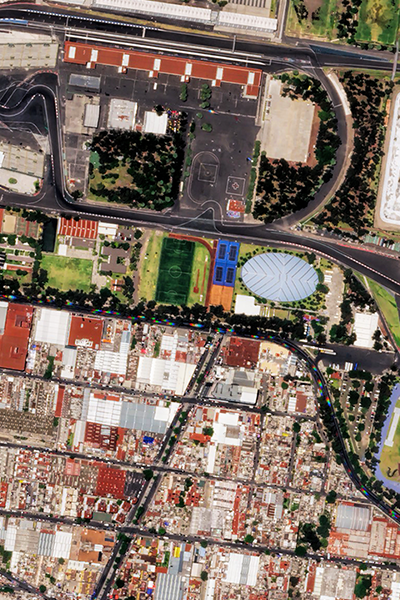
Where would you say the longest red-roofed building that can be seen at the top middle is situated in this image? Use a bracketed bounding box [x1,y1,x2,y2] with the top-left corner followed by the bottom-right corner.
[62,39,261,83]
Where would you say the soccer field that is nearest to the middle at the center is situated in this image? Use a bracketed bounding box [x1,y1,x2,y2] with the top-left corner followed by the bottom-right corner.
[155,236,195,305]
